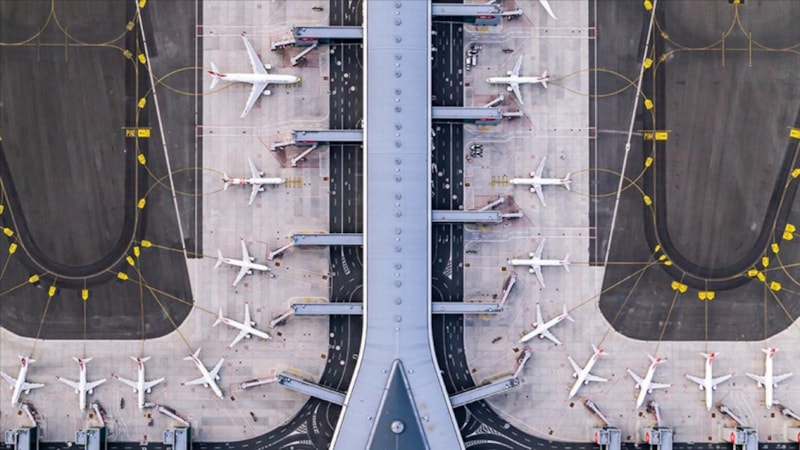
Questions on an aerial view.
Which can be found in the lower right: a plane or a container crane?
plane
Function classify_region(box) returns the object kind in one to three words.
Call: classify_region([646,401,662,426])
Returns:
jet bridge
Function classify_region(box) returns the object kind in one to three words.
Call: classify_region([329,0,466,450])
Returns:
building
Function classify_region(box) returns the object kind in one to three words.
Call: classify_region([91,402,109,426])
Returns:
jet bridge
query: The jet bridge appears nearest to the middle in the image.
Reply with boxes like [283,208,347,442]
[477,198,505,210]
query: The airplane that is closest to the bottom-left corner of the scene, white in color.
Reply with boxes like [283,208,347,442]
[0,355,44,406]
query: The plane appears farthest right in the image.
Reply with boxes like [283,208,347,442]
[746,348,798,407]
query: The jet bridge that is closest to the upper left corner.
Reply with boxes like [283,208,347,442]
[270,38,297,55]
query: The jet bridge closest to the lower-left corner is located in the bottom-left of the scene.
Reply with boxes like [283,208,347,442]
[20,402,42,427]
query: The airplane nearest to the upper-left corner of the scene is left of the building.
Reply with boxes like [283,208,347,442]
[202,28,301,120]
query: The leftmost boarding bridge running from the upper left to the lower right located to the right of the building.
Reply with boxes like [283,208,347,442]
[583,398,609,426]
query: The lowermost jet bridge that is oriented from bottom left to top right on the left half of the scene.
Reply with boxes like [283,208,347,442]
[269,311,292,330]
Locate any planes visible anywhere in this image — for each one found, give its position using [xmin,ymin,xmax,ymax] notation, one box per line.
[202,28,301,120]
[509,155,572,207]
[223,155,285,207]
[520,301,578,346]
[507,238,571,290]
[52,357,106,412]
[746,348,798,407]
[214,238,271,287]
[112,356,165,411]
[0,355,44,406]
[212,301,272,348]
[685,352,738,409]
[567,344,614,398]
[486,52,551,105]
[629,353,677,407]
[177,345,223,398]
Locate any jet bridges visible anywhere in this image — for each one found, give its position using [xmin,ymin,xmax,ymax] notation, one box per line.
[501,211,524,219]
[290,44,317,68]
[715,405,745,427]
[500,111,523,120]
[477,198,505,210]
[269,311,292,330]
[646,401,662,426]
[268,243,295,260]
[513,349,530,378]
[290,144,318,167]
[269,142,297,153]
[270,38,297,55]
[583,398,609,426]
[91,402,109,426]
[144,402,193,426]
[240,376,280,389]
[498,274,516,308]
[482,95,505,106]
[20,402,42,427]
